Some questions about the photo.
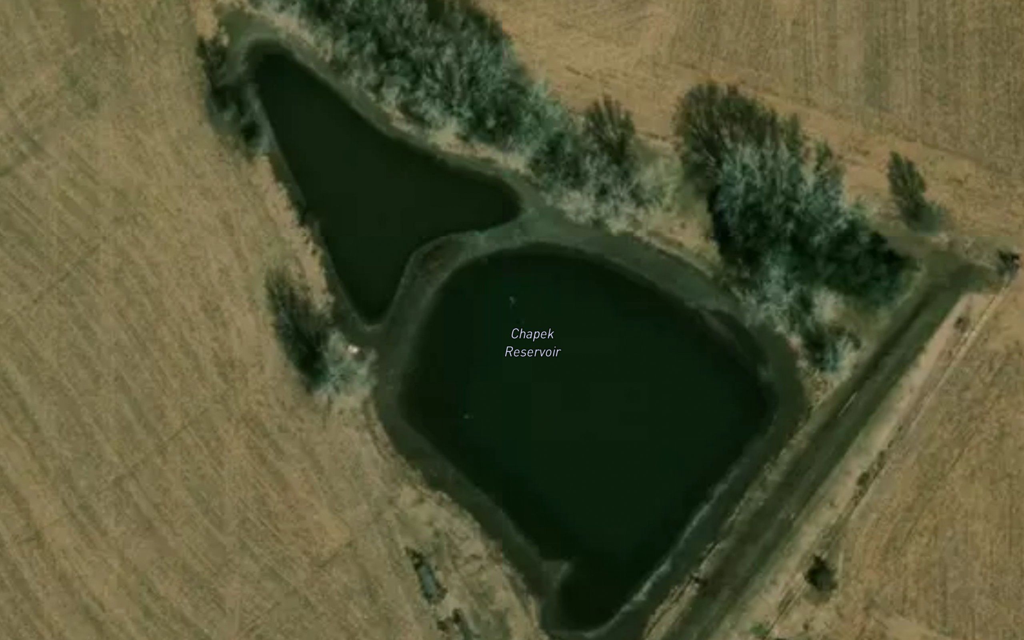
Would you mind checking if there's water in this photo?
Yes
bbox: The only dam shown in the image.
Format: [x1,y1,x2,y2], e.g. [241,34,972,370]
[642,278,912,640]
